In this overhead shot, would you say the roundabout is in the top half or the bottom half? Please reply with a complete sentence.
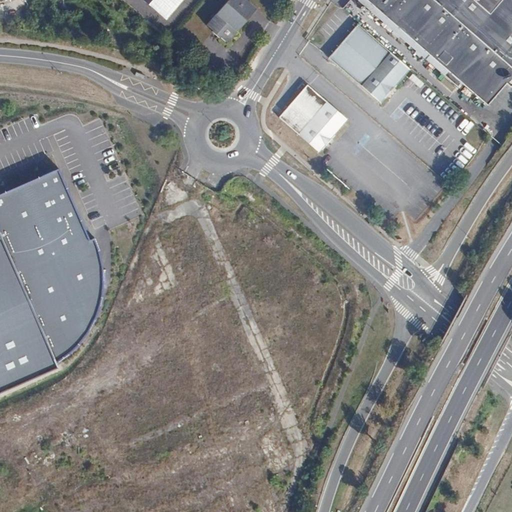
The roundabout is in the top half of the image.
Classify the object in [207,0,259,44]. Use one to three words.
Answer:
house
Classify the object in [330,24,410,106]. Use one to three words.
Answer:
building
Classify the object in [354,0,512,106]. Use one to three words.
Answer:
building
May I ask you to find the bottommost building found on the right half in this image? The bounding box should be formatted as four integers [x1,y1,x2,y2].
[280,85,348,154]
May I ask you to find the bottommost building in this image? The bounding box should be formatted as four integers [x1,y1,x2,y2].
[0,170,105,390]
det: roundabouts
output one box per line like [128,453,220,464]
[190,102,256,168]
